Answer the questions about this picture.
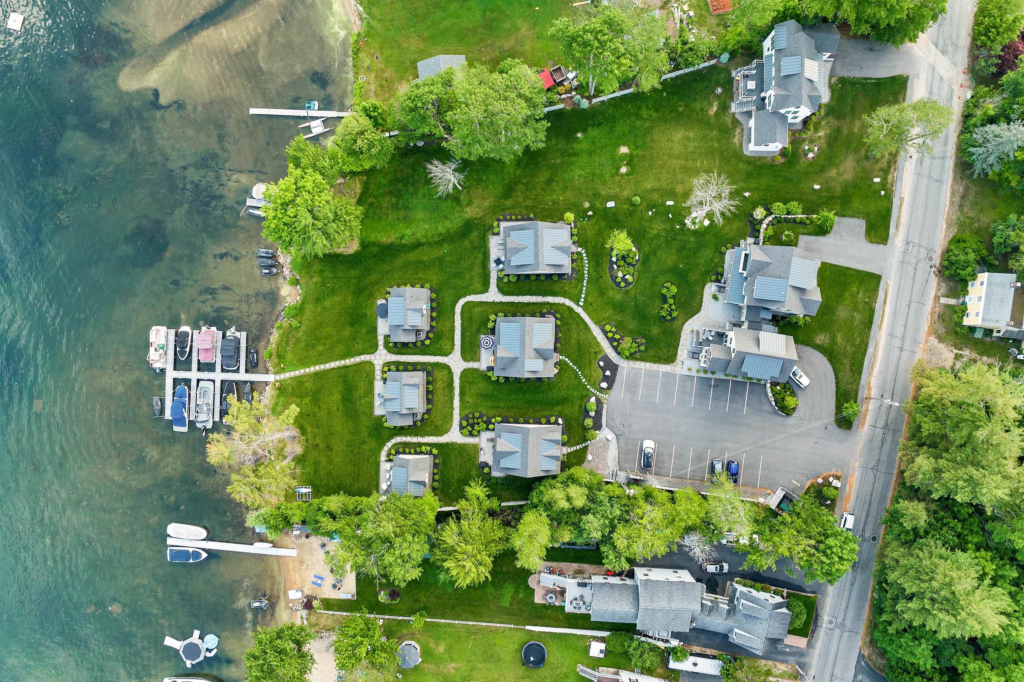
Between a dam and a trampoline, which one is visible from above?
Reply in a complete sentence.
The image shows a trampoline.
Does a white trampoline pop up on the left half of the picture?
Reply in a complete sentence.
Yes, you'll find a white trampoline on the left half of the picture.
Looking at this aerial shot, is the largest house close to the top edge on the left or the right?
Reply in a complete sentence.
It is on the right.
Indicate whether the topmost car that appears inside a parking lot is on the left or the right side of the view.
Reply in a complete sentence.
It is on the right.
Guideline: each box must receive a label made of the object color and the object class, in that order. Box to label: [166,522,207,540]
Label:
white boat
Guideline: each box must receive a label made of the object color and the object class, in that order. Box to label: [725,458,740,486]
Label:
blue car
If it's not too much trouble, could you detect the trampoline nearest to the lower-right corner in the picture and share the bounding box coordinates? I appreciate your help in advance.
[522,642,548,672]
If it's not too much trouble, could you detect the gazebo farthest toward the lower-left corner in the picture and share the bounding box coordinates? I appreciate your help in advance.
[395,641,423,675]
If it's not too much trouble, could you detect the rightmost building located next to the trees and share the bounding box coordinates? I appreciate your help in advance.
[960,266,1024,343]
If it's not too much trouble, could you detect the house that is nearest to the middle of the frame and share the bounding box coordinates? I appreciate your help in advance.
[495,316,556,378]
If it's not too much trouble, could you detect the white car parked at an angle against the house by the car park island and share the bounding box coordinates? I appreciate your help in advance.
[790,364,814,392]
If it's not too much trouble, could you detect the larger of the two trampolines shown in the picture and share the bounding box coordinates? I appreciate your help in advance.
[165,628,220,667]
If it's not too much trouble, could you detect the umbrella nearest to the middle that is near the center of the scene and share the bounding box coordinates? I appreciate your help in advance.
[479,335,495,350]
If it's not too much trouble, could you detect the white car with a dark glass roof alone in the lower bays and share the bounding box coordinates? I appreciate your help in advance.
[640,439,656,469]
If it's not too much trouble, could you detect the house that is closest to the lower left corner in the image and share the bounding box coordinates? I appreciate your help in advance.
[393,456,430,498]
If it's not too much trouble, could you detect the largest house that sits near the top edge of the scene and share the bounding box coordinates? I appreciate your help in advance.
[730,18,846,149]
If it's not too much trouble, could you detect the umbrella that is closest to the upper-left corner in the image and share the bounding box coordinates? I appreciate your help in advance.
[375,303,389,317]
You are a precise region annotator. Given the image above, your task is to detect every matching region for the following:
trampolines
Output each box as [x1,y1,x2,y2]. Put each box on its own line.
[522,642,548,672]
[165,628,220,667]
